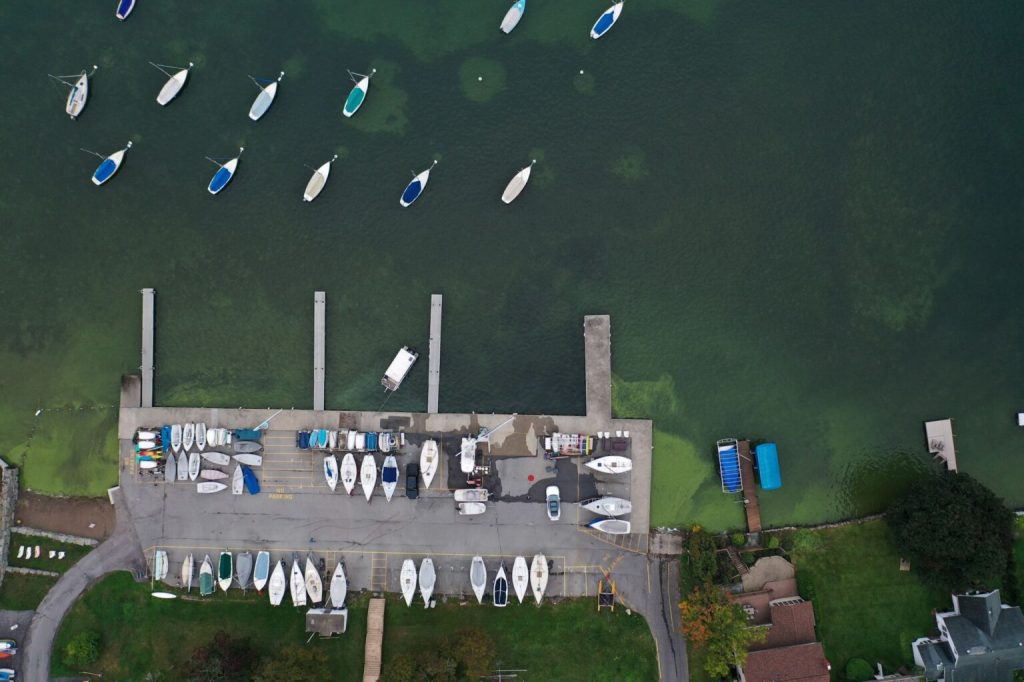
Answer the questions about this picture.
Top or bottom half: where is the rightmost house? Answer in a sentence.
You can find the rightmost house in the bottom half.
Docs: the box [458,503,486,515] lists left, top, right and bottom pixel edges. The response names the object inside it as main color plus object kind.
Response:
white boat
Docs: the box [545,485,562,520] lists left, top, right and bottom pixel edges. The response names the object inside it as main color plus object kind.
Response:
white car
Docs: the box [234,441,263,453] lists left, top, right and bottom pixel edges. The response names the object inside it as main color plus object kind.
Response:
gray boat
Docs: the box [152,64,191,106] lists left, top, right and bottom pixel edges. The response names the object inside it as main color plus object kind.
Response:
white boat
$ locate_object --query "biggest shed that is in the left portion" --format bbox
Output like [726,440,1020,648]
[306,607,349,633]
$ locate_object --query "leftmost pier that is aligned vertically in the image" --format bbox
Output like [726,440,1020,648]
[140,288,158,407]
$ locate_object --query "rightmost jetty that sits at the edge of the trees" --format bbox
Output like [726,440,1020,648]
[926,418,959,475]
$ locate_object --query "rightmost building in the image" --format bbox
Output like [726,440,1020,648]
[913,588,1024,682]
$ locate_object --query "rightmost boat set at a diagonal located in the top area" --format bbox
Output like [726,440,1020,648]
[589,0,623,41]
